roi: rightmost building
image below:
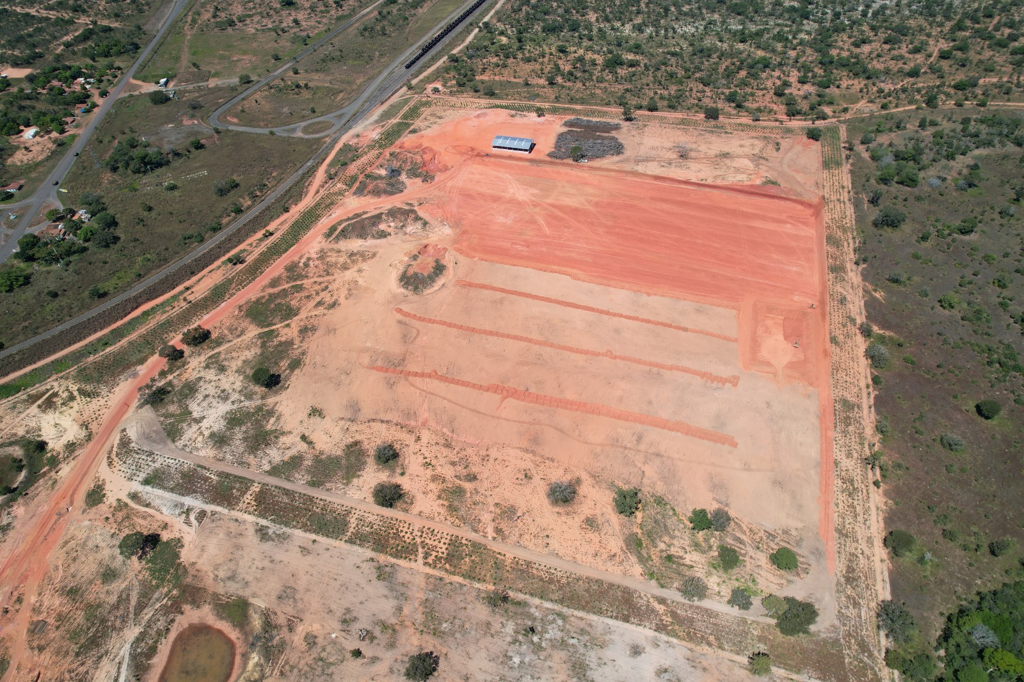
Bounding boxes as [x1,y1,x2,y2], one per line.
[492,134,535,154]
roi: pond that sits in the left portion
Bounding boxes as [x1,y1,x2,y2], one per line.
[159,624,235,682]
